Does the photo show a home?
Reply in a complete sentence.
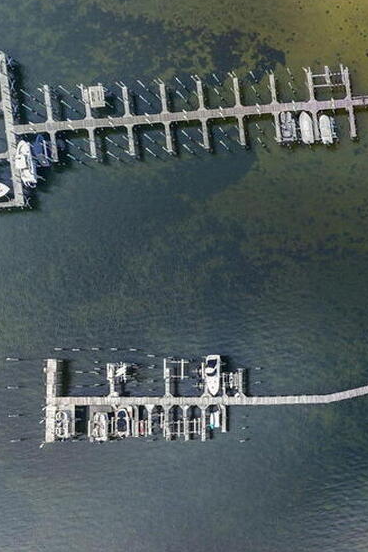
No, no home is visible in the view.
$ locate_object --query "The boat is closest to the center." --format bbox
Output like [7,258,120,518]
[206,355,220,395]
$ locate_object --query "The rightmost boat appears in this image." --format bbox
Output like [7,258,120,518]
[321,114,335,148]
